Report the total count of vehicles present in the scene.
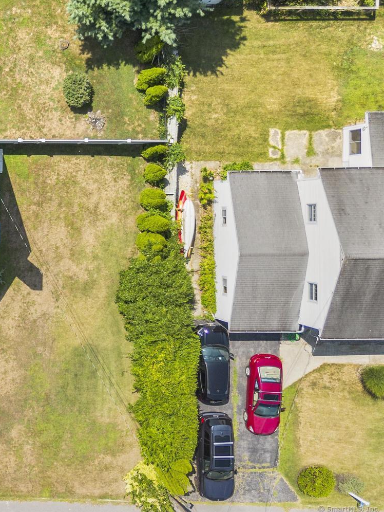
three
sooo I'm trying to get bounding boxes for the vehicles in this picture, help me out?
[239,352,283,434]
[193,411,237,500]
[191,325,234,407]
